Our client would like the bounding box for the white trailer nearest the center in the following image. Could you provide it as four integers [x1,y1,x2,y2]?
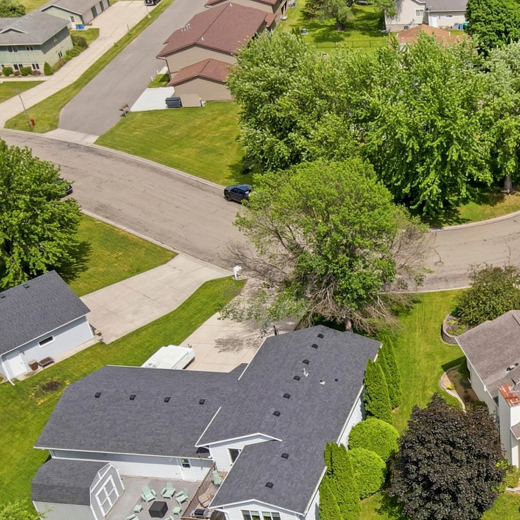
[147,347,195,369]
